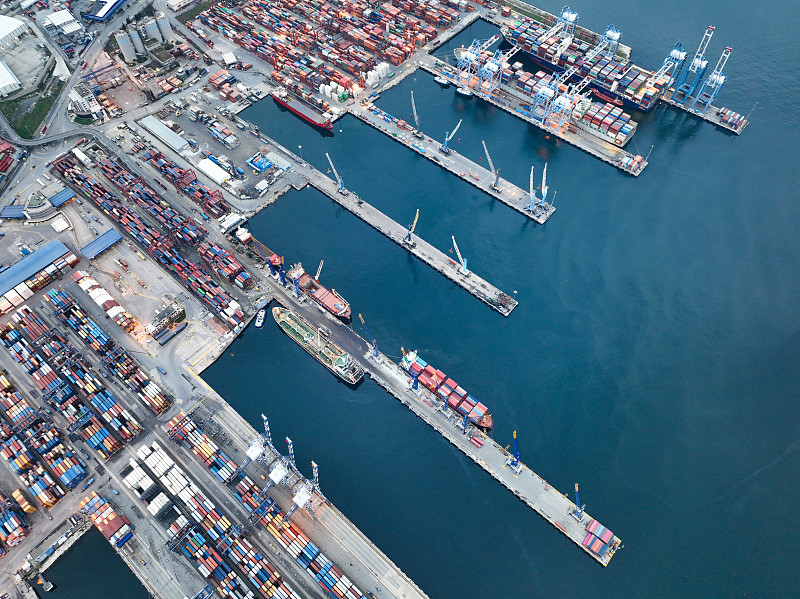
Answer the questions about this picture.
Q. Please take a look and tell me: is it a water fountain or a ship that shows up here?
ship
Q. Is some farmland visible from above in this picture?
No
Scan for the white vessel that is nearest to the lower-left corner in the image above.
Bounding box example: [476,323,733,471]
[252,312,266,329]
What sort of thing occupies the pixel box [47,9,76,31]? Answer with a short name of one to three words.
building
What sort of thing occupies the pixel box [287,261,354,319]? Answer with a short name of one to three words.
ship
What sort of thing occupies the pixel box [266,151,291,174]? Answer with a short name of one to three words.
building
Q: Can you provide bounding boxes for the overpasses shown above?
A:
[0,106,131,162]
